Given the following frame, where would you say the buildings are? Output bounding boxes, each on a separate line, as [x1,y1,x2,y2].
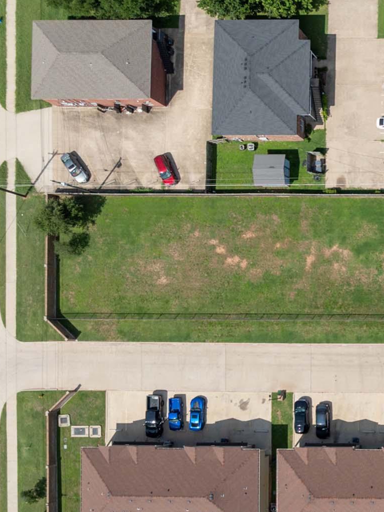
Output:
[276,442,384,512]
[80,441,270,512]
[32,19,180,107]
[212,20,327,141]
[251,155,289,187]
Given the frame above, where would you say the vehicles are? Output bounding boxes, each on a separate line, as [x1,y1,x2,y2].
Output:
[377,116,384,130]
[144,395,164,436]
[62,151,90,183]
[156,152,178,185]
[166,397,184,430]
[315,403,331,437]
[293,400,310,434]
[187,397,205,430]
